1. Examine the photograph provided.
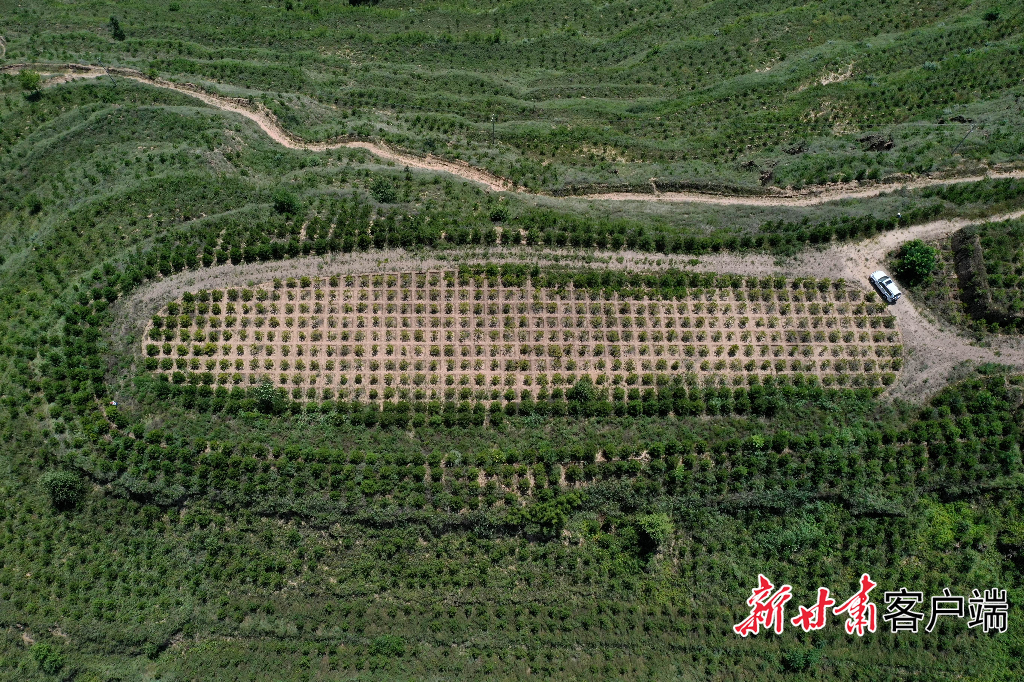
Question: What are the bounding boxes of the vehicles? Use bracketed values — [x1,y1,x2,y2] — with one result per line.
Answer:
[868,269,905,302]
